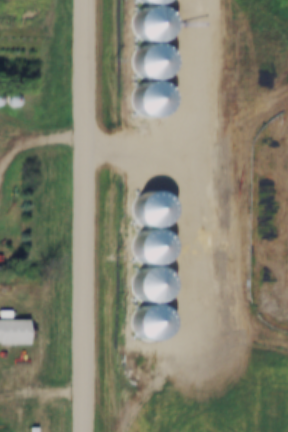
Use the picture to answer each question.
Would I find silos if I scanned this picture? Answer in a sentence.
Yes, the picture does show a silo.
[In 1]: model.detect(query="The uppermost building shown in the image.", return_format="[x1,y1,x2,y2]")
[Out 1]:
[0,310,36,347]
